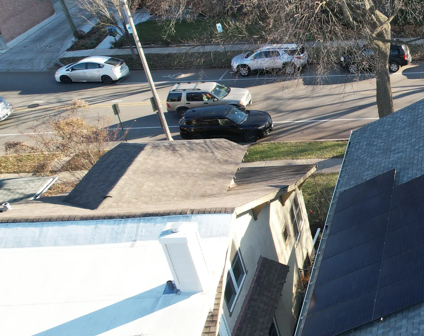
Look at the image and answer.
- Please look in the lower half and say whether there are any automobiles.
No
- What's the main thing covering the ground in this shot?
buildings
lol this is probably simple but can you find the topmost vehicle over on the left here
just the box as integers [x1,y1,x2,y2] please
[48,53,130,85]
